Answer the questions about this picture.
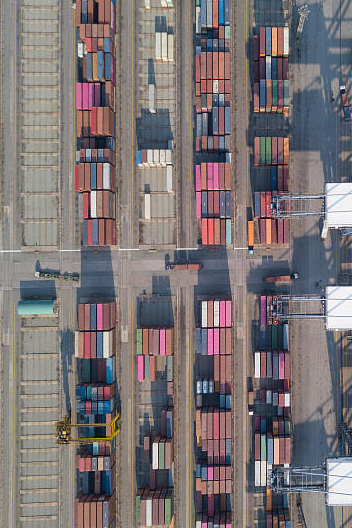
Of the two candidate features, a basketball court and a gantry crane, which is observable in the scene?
gantry crane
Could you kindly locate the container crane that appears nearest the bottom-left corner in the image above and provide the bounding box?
[53,404,123,444]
